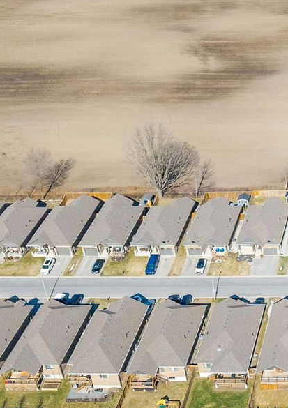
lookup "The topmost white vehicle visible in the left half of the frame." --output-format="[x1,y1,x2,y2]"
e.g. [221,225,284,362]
[39,259,53,272]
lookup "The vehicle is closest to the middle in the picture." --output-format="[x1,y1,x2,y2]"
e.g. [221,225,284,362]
[144,257,158,273]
